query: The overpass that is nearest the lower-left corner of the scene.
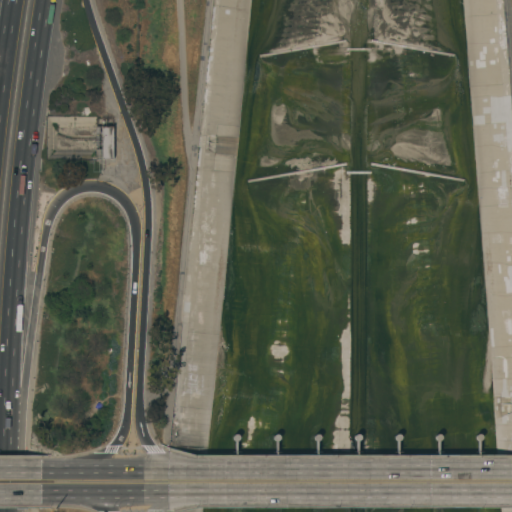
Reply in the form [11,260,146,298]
[0,456,54,508]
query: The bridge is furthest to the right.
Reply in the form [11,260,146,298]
[162,434,512,508]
